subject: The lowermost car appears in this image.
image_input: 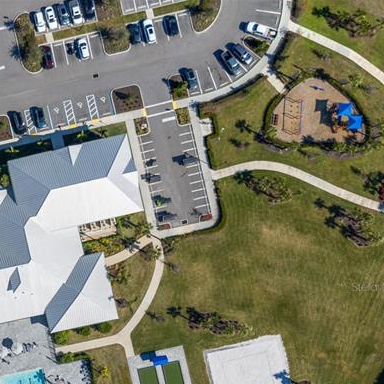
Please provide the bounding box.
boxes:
[155,210,177,223]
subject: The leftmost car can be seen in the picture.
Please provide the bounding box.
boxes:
[12,111,24,133]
